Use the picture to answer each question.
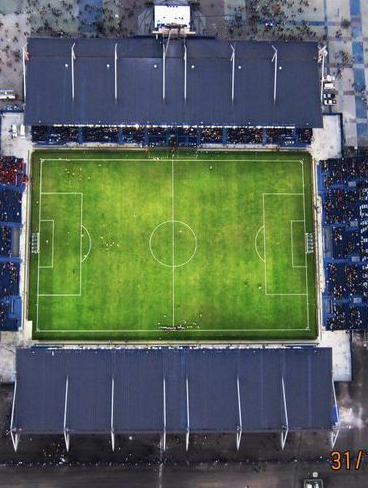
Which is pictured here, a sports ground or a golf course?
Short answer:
sports ground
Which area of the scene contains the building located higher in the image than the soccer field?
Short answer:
top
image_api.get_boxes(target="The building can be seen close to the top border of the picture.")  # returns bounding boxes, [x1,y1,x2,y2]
[139,0,207,48]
